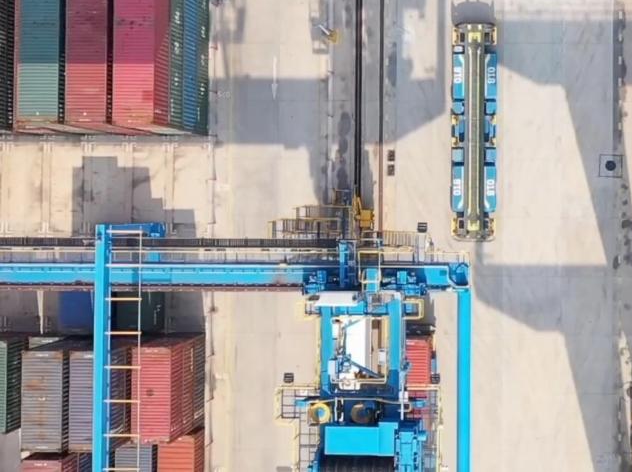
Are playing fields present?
No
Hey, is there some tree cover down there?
No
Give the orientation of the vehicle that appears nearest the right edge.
from top to bottom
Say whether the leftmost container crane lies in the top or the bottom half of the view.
bottom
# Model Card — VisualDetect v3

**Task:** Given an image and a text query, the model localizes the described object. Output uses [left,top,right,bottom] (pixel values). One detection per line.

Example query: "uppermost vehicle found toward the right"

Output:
[452,21,499,239]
